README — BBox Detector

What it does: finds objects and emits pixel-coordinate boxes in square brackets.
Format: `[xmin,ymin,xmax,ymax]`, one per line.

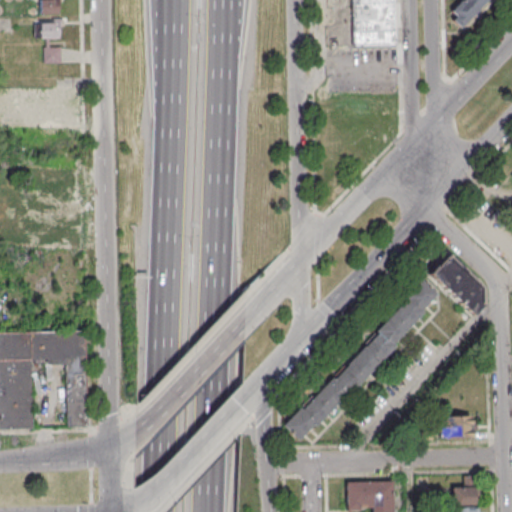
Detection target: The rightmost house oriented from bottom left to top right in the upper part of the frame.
[448,0,496,32]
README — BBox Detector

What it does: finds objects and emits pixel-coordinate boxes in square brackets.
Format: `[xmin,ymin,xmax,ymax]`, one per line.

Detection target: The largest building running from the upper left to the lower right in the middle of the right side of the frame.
[437,258,486,312]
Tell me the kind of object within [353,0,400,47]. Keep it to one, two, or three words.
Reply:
building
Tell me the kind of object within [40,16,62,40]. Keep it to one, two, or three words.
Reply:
house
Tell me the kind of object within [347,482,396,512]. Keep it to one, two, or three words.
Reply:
building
